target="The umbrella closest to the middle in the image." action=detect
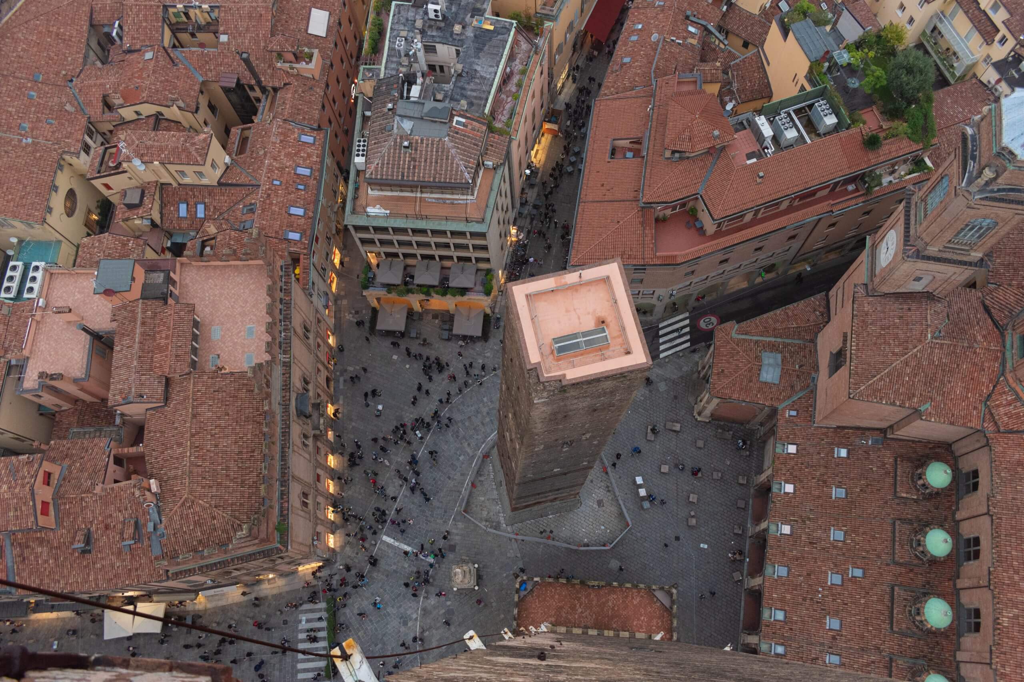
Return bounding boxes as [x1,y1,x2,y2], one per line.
[452,308,487,340]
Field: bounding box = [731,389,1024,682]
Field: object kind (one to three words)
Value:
church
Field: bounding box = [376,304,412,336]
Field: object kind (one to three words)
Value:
umbrella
